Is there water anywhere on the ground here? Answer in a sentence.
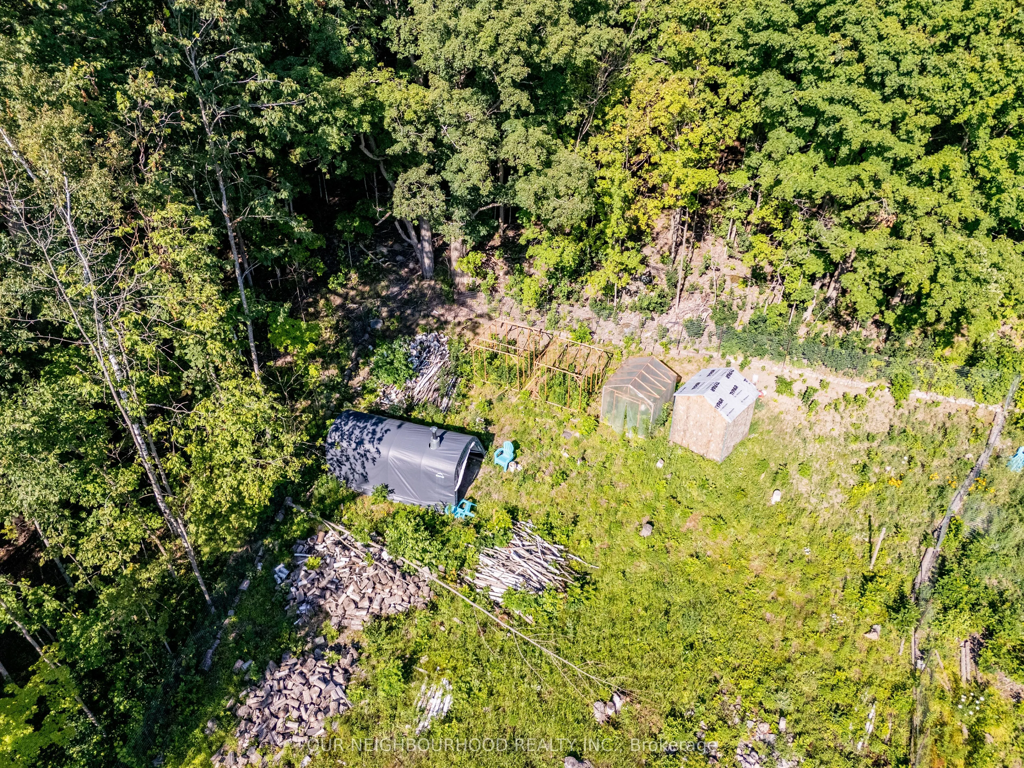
No, no water is visible.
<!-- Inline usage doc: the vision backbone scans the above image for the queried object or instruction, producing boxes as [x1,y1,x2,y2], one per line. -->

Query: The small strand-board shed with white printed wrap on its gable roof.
[668,368,760,465]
